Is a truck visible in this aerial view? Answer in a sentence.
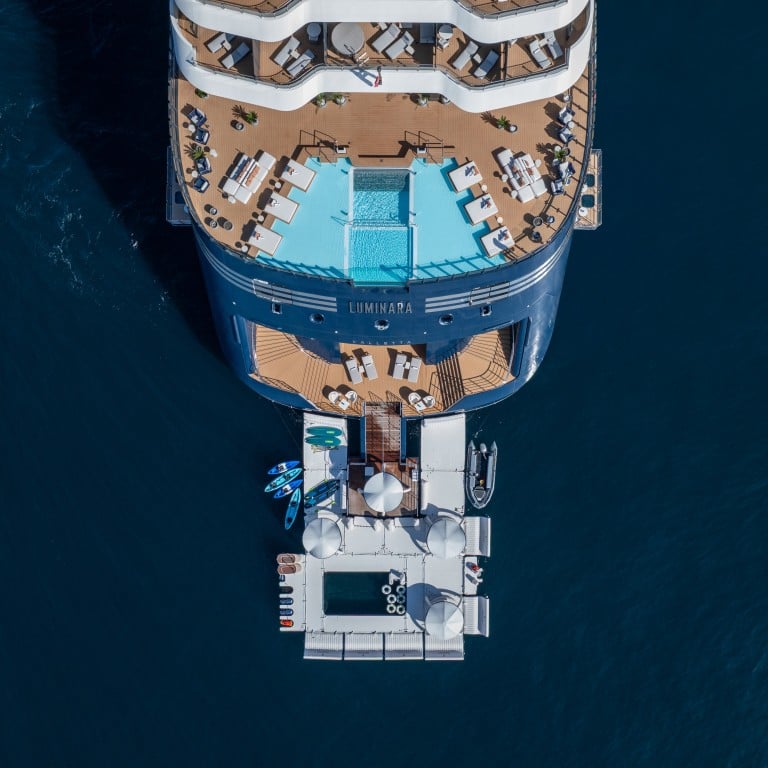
No, the photo shows no truck.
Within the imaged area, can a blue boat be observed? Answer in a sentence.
Yes, there is a blue boat in the image.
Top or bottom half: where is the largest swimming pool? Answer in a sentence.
The largest swimming pool is in the top half of the image.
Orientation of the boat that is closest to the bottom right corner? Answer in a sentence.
Seen from above, the boat that is closest to the bottom right corner lies vertically.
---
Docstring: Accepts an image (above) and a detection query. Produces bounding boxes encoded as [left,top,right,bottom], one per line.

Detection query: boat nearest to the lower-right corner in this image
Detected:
[466,440,497,508]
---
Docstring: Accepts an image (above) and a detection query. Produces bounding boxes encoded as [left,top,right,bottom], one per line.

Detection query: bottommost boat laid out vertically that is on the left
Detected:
[286,490,300,528]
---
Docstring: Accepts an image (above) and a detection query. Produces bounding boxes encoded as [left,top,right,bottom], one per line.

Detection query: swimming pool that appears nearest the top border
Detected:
[256,157,504,287]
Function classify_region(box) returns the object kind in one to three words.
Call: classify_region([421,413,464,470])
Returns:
pier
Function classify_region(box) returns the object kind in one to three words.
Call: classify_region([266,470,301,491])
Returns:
boat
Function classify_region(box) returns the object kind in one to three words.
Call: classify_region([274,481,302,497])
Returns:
boat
